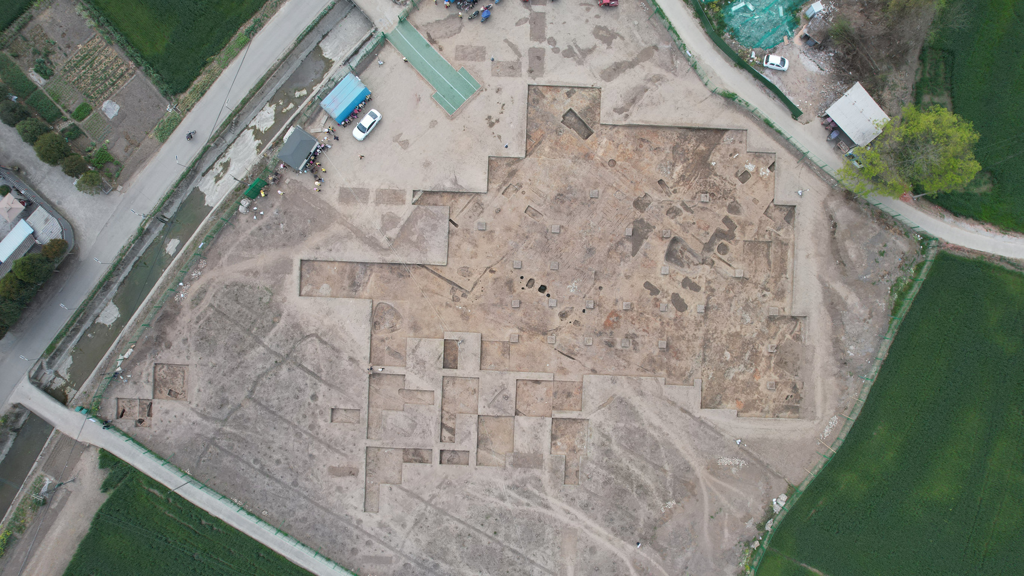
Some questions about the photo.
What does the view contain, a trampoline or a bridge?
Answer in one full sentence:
This aerial view contains a bridge.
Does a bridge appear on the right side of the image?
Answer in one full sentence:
No, no bridge can be made out on the right side of the image.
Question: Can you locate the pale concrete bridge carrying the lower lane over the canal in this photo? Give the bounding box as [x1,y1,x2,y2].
[5,371,90,443]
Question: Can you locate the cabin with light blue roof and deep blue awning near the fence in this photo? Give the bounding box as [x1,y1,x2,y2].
[321,73,373,126]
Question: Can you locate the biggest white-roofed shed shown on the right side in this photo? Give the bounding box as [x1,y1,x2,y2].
[818,82,888,149]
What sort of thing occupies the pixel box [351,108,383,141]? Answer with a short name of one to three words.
car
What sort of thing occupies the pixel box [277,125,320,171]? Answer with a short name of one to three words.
building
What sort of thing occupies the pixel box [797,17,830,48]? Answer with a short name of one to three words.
shed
